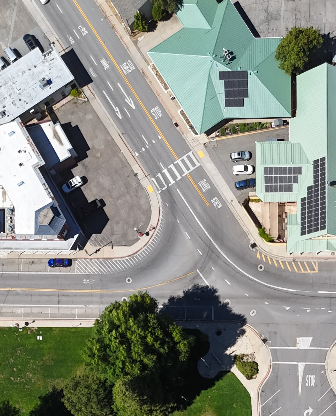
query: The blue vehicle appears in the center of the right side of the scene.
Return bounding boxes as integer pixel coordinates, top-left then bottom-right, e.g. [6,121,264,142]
[234,178,256,191]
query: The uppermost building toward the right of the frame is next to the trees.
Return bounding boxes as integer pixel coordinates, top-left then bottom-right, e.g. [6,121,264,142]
[148,0,292,135]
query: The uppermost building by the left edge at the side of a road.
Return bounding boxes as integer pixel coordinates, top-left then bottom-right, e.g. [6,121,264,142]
[0,46,80,126]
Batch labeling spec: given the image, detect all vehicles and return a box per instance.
[230,150,250,162]
[48,257,71,268]
[233,163,254,175]
[63,174,86,194]
[1,43,19,63]
[0,54,8,70]
[21,30,41,52]
[234,178,256,191]
[40,0,49,6]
